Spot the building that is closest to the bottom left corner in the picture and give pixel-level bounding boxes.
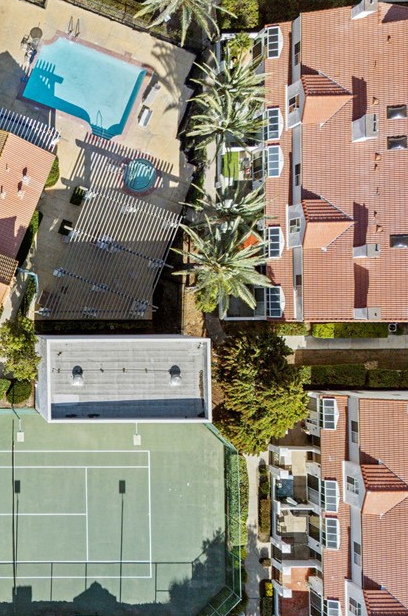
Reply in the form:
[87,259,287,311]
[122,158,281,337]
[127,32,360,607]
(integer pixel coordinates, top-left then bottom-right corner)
[35,334,211,422]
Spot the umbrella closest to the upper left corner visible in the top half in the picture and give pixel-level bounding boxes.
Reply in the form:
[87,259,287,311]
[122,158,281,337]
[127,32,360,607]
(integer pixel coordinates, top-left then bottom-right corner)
[26,26,43,45]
